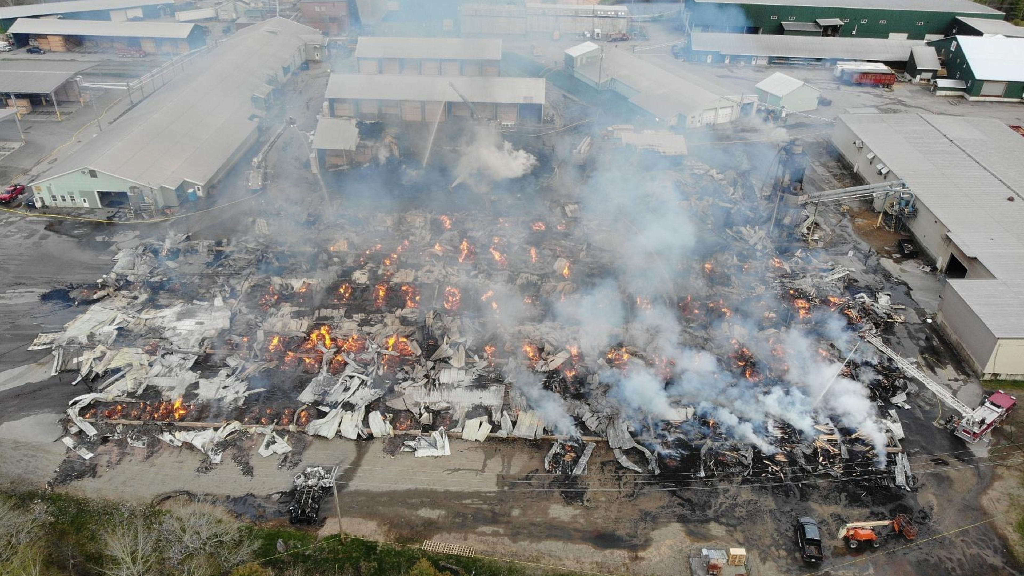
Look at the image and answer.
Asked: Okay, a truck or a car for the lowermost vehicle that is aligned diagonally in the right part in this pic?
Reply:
truck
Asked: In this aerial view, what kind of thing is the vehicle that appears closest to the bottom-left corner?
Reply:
truck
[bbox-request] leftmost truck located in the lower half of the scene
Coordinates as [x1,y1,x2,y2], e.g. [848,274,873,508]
[283,455,341,528]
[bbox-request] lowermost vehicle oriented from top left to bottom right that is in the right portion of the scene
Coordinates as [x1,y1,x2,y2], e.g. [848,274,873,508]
[860,327,1017,450]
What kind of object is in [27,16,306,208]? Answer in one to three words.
building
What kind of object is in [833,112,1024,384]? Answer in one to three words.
warehouse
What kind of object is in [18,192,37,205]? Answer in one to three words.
vehicle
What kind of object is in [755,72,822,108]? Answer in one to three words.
house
